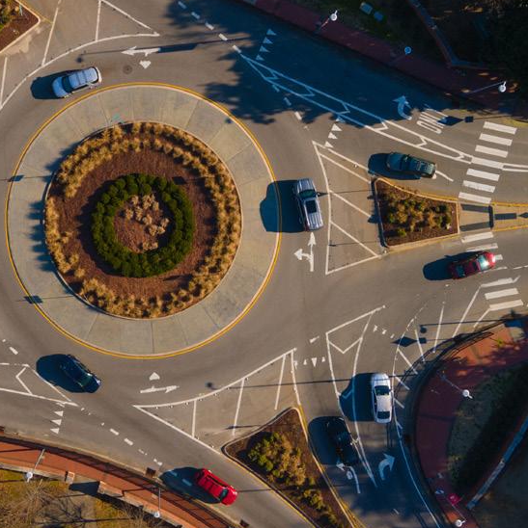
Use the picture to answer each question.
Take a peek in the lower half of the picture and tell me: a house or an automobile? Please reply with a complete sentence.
It is an automobile that can be seen in the lower half of the picture.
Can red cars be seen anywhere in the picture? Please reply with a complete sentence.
Yes, a red car can be made out from above.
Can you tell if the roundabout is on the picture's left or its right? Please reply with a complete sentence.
It is on the left.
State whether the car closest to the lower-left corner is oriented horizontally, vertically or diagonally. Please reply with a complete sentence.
In this picture, the car closest to the lower-left corner is oriented diagonally.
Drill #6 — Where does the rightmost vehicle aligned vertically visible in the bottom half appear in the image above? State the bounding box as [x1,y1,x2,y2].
[370,372,395,423]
